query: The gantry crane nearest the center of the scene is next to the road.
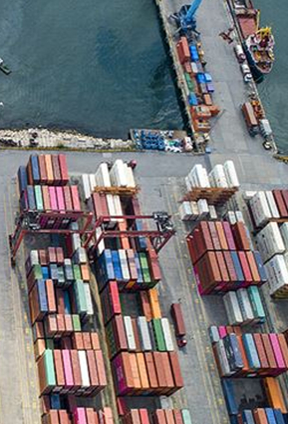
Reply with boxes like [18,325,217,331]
[83,214,177,260]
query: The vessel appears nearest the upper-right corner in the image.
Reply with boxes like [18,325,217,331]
[224,0,280,79]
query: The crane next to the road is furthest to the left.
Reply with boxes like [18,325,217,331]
[11,209,98,262]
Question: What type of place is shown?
port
